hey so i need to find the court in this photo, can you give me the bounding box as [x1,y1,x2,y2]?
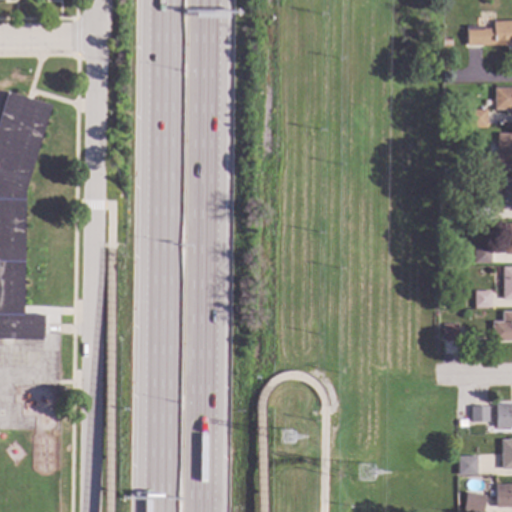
[32,434,60,478]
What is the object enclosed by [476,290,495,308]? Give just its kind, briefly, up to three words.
building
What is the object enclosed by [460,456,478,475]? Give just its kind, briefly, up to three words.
building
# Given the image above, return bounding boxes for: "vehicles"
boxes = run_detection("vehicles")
[200,416,208,483]
[151,53,156,62]
[212,310,218,322]
[196,162,202,177]
[146,500,155,512]
[160,120,166,131]
[212,117,219,131]
[84,343,90,356]
[211,393,217,408]
[160,0,168,10]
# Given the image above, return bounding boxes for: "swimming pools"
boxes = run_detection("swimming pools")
[467,476,486,490]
